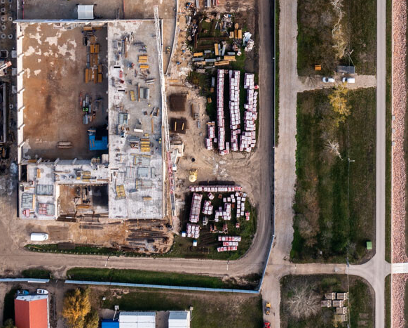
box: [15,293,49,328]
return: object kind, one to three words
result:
house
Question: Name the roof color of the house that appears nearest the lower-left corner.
red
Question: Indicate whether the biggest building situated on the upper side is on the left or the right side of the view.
left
